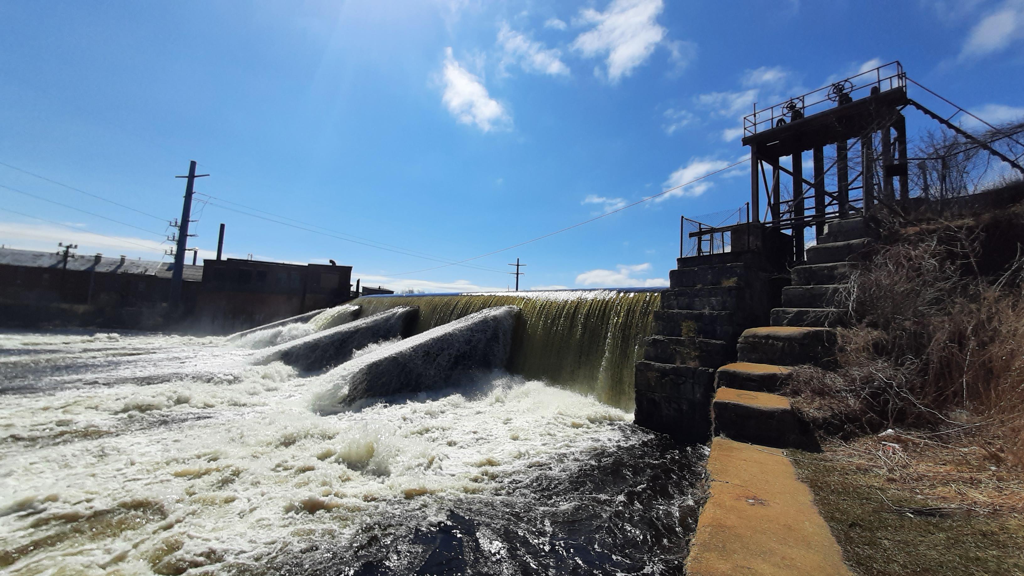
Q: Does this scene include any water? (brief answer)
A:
Yes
